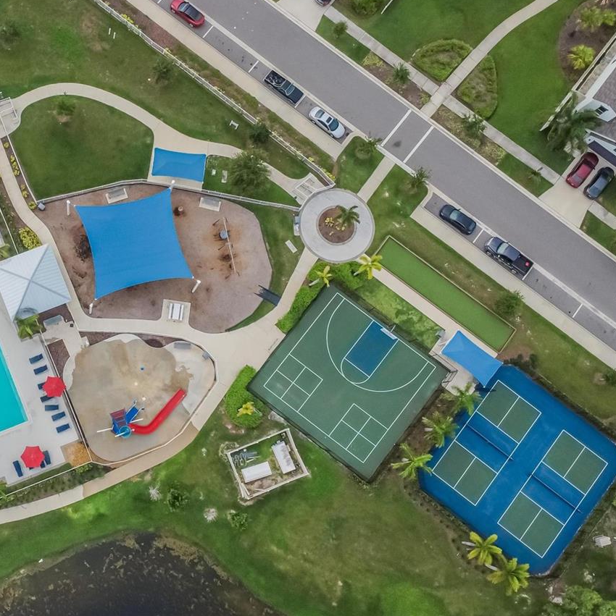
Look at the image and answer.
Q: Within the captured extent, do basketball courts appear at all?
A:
Yes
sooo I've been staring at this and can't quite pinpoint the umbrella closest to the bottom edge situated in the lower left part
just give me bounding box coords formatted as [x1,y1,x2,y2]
[20,444,45,470]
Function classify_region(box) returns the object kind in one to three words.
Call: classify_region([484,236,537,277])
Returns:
truck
